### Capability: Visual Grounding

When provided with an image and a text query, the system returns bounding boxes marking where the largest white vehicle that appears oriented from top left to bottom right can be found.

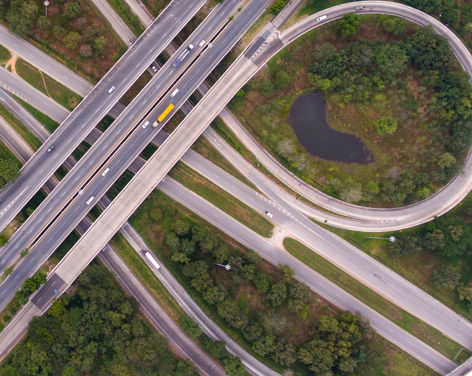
[144,251,161,270]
